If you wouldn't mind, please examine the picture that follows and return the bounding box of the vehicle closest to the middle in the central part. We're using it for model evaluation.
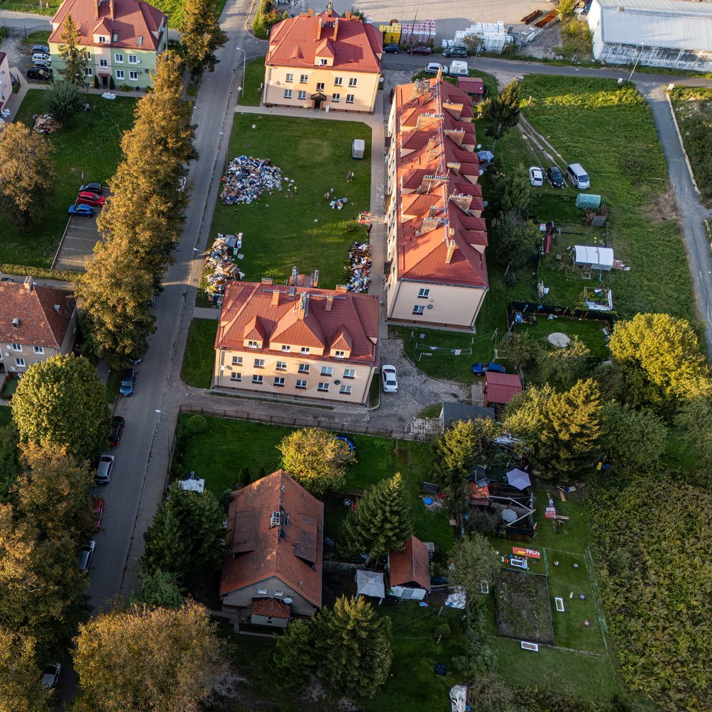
[382,365,398,395]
